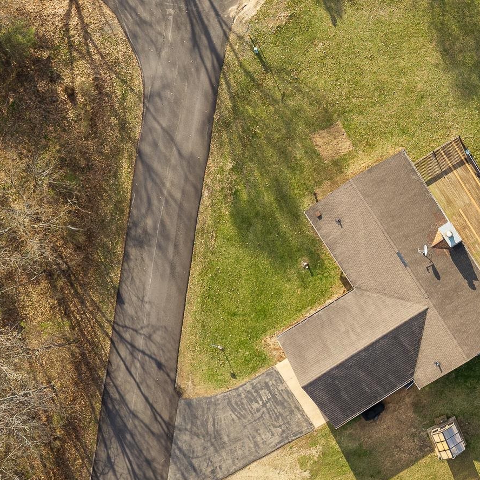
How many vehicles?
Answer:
zero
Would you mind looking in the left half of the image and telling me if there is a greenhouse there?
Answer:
No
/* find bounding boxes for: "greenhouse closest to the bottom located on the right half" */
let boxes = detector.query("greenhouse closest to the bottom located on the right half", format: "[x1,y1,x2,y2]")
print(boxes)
[429,413,471,460]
